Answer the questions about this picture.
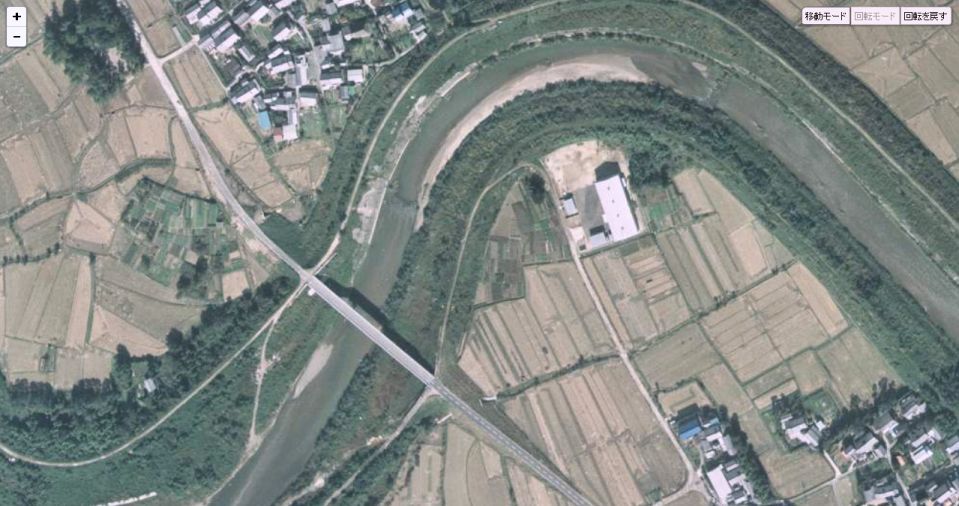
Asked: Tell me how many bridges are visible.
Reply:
1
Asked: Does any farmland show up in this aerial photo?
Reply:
Yes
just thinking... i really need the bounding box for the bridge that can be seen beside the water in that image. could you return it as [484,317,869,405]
[304,273,437,387]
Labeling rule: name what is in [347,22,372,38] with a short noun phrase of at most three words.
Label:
house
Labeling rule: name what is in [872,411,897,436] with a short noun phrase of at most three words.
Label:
house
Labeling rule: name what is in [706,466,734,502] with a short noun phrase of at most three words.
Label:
barn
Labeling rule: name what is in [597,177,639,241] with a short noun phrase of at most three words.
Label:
building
